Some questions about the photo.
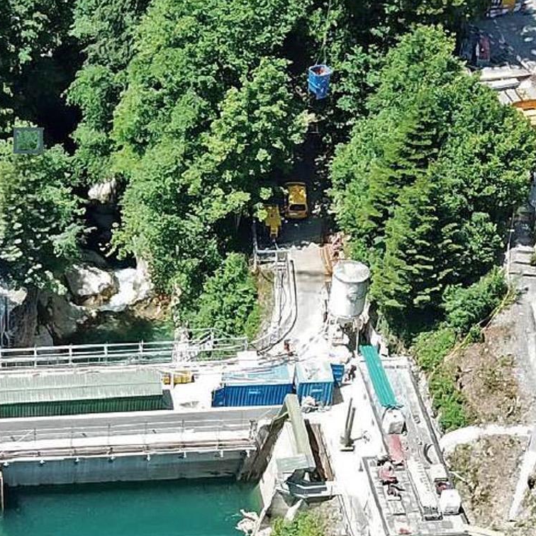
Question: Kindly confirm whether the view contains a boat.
No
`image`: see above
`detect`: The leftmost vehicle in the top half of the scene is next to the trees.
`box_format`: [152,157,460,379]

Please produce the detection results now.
[282,178,308,216]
